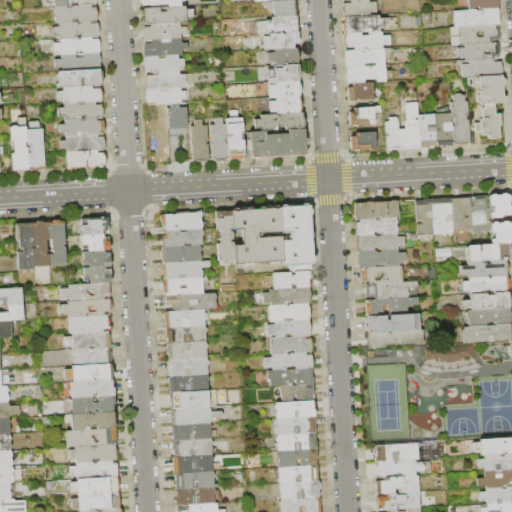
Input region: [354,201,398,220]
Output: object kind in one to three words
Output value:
house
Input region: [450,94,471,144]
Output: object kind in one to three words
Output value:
house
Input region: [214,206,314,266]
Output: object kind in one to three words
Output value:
building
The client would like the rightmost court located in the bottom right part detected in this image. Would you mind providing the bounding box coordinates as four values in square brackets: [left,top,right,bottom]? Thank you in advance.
[477,374,512,436]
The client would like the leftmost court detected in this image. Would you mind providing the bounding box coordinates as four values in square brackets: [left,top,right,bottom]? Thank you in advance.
[367,363,408,441]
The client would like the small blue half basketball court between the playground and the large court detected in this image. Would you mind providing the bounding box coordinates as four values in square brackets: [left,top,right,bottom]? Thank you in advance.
[444,404,480,438]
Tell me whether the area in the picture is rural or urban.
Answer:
urban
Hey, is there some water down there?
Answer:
No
